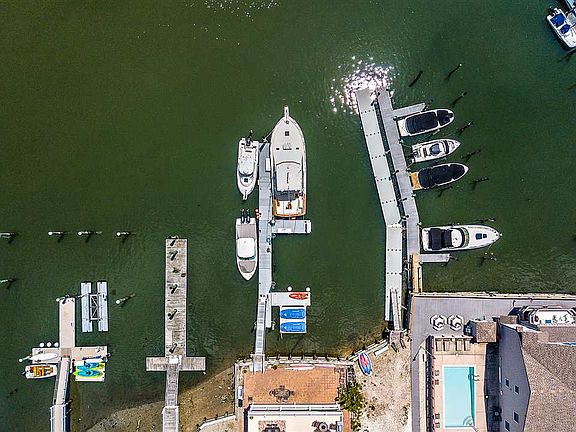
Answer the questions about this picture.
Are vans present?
No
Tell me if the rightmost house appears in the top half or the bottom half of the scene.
bottom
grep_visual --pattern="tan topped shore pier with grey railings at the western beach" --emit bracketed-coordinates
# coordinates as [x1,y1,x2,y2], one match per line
[47,400,75,432]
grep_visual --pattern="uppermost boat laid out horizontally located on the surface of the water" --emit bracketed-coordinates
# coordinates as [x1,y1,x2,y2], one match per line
[394,111,454,137]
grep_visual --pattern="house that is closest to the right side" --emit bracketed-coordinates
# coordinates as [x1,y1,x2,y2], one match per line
[490,303,576,432]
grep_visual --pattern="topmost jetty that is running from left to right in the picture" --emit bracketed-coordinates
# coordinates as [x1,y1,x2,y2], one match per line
[272,292,310,305]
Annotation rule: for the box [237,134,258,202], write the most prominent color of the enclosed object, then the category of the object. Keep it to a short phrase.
white boat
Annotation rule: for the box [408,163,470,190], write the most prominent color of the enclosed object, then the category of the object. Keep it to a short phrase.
black boat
